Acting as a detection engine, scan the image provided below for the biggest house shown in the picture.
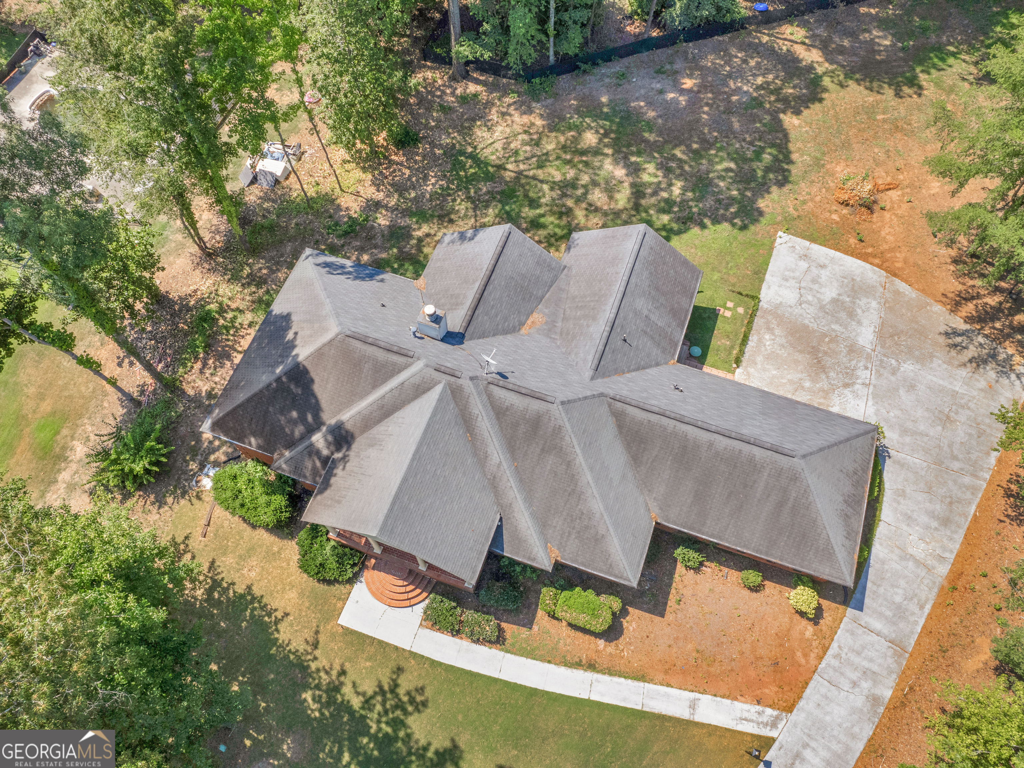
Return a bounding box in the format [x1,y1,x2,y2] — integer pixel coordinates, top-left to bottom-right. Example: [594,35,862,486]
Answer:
[199,223,880,591]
